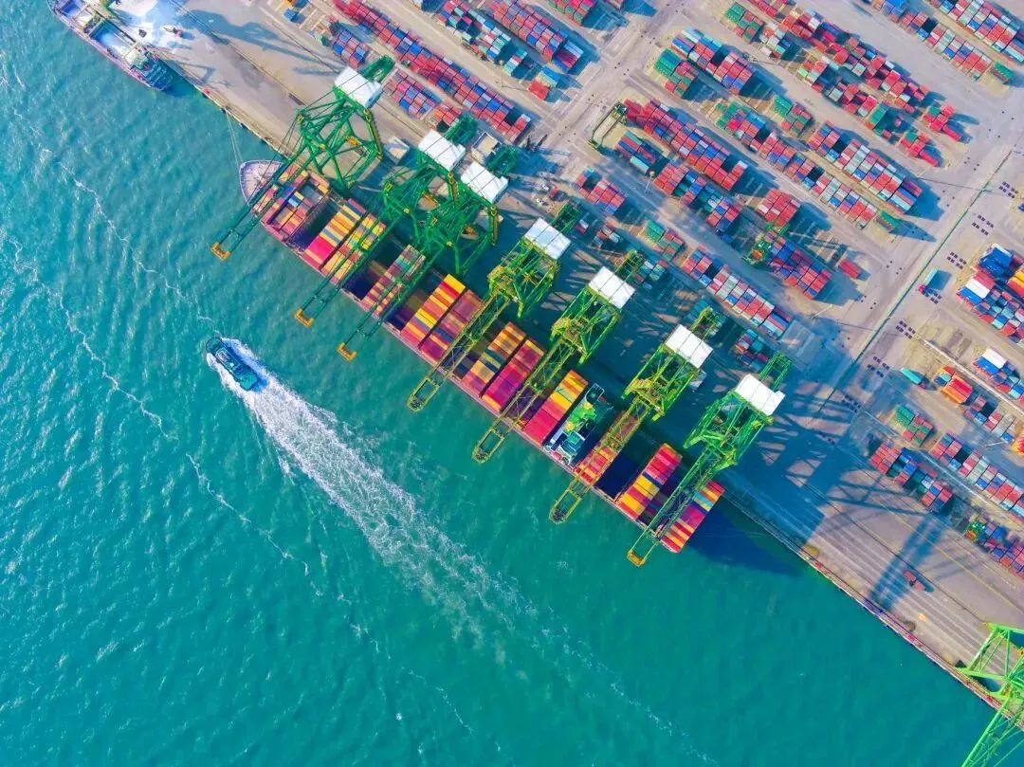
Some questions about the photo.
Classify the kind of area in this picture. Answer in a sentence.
The picture captures a port.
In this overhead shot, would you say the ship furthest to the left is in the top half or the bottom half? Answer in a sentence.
You can find the ship furthest to the left in the top half.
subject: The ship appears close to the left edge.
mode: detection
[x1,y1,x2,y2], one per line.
[27,0,168,95]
